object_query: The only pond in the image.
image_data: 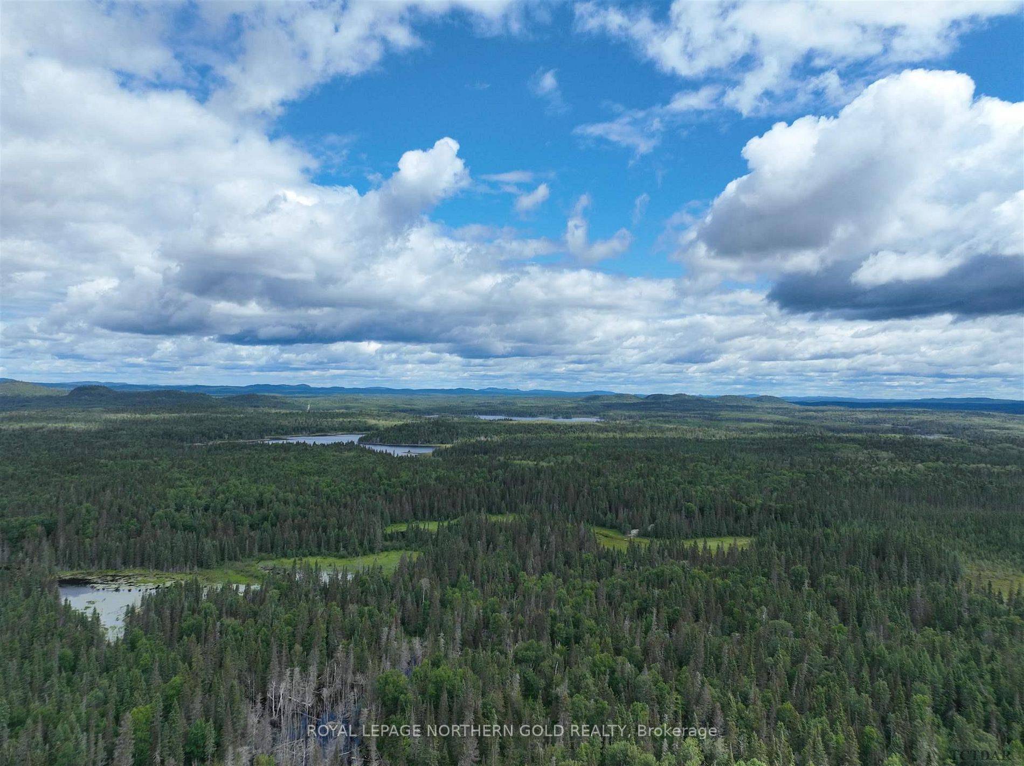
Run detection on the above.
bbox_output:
[56,580,170,665]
